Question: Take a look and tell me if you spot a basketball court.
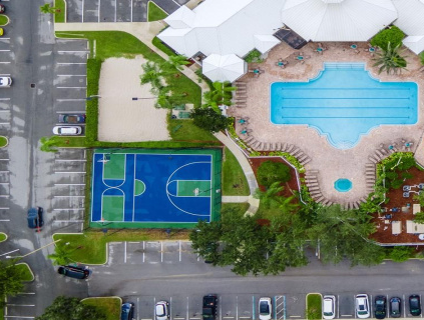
Yes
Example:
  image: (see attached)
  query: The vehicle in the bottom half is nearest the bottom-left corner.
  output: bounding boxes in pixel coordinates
[56,264,92,280]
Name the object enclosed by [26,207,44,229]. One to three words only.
car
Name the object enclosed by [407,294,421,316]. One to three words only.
car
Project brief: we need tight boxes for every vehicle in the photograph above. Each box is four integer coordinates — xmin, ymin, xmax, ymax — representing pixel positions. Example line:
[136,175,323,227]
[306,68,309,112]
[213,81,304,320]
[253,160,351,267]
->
[407,294,421,316]
[52,126,83,136]
[0,76,15,86]
[372,295,387,319]
[0,5,6,14]
[121,302,136,320]
[389,297,402,318]
[56,264,92,280]
[155,300,170,320]
[26,207,44,229]
[258,297,272,320]
[321,295,336,319]
[57,114,84,124]
[201,294,218,320]
[355,295,369,318]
